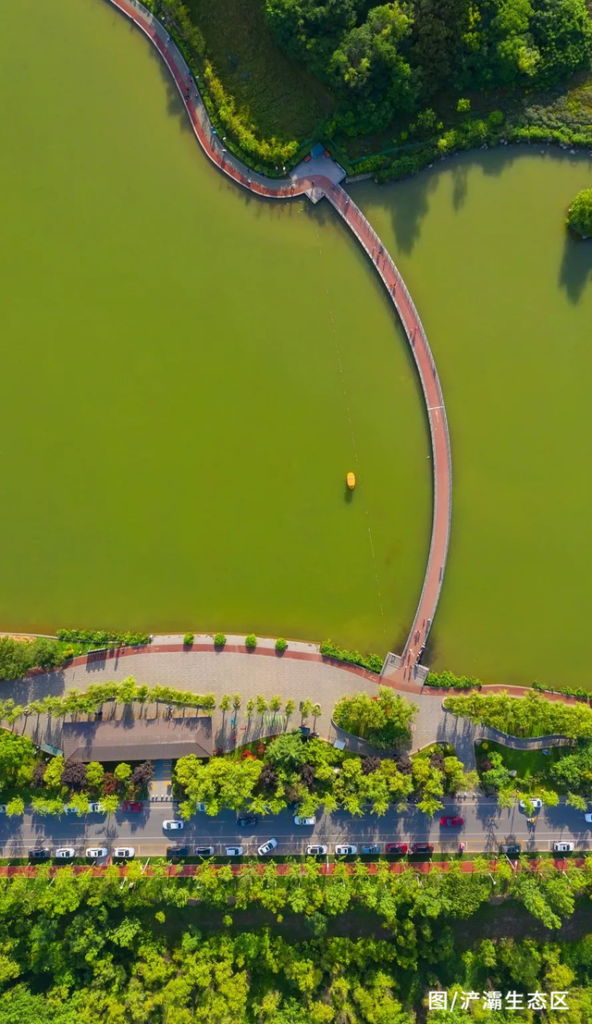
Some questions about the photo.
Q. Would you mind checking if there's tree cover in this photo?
Yes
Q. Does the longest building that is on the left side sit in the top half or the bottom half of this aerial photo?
bottom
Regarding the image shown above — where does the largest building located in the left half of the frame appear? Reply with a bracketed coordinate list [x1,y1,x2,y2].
[63,715,213,762]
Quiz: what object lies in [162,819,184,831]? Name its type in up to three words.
vehicle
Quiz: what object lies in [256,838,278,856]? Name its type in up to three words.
car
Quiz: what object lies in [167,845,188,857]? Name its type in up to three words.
vehicle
